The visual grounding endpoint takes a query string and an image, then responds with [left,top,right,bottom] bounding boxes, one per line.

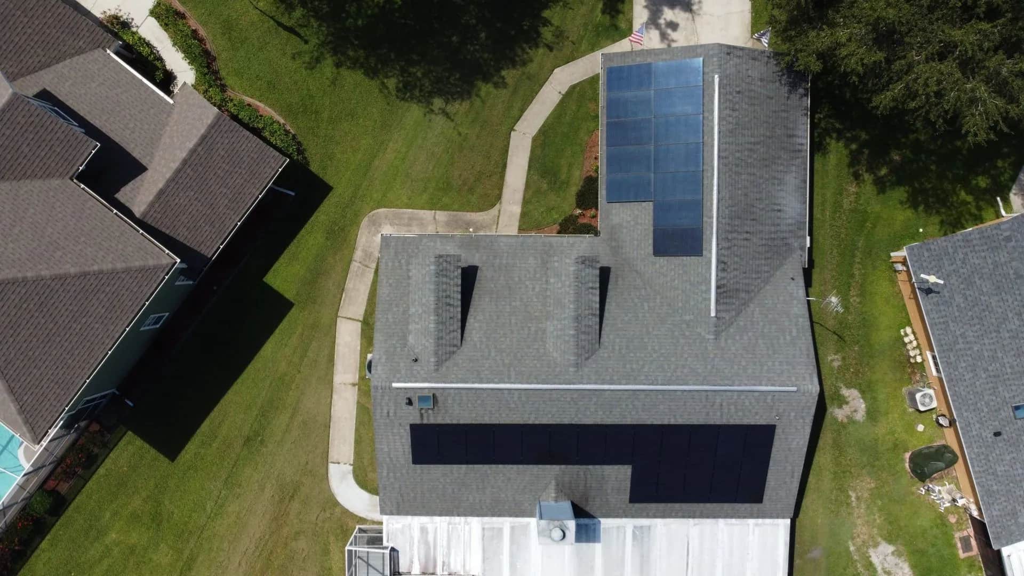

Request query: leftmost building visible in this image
[0,0,306,449]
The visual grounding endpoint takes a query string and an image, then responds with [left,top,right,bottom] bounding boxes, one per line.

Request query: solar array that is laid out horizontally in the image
[410,423,776,503]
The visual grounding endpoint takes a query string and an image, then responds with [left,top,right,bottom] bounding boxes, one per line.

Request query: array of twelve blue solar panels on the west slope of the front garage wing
[607,58,702,255]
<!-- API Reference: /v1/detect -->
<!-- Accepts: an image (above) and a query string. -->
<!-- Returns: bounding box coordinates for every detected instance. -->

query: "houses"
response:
[0,0,306,449]
[887,215,1024,576]
[371,43,820,576]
